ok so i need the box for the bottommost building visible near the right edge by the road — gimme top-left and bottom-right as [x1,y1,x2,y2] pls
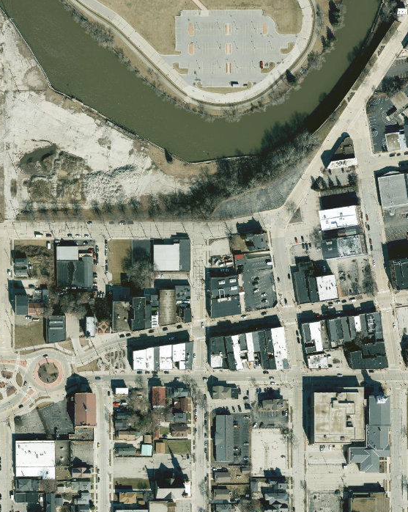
[352,491,390,512]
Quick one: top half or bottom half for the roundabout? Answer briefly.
bottom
